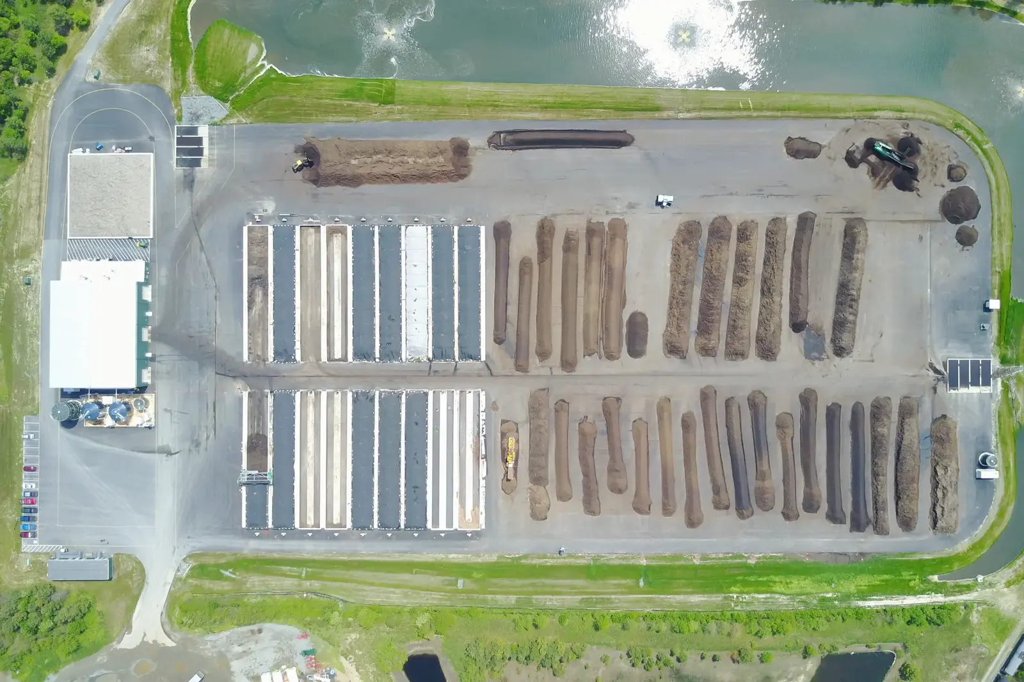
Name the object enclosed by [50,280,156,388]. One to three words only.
building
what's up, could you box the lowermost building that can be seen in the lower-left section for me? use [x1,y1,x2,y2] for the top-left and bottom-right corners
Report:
[48,551,114,580]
